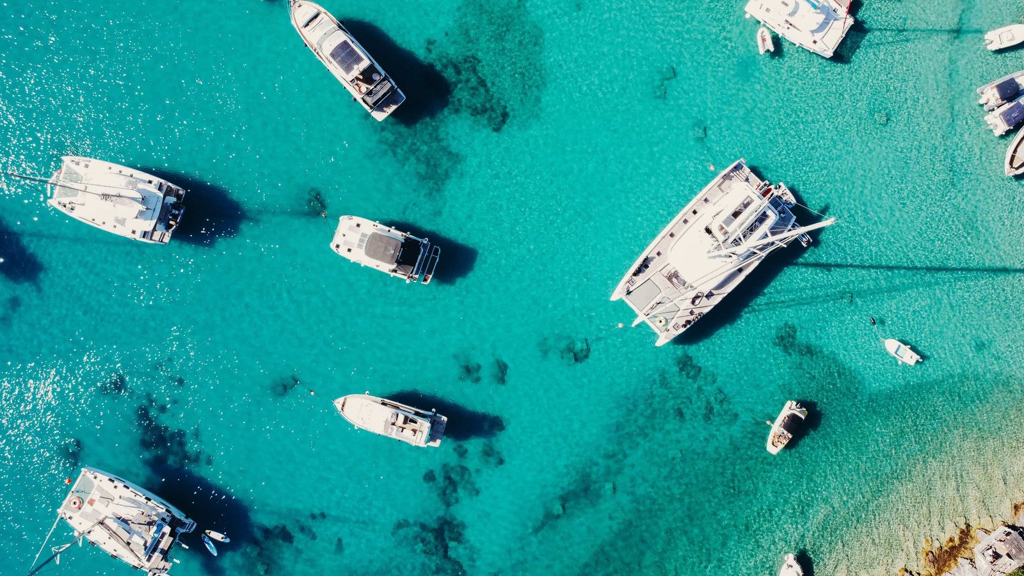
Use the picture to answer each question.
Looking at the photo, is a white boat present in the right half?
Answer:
Yes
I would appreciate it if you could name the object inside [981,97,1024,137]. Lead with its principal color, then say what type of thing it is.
white boat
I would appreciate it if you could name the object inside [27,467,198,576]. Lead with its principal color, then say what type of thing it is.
white boat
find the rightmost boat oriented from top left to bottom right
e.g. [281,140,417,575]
[875,325,923,366]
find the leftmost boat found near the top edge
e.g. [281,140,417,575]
[287,0,406,122]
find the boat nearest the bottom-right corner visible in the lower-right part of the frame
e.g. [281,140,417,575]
[779,553,804,576]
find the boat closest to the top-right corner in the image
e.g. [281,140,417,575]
[982,24,1024,52]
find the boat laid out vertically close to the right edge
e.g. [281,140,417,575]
[1002,124,1024,176]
